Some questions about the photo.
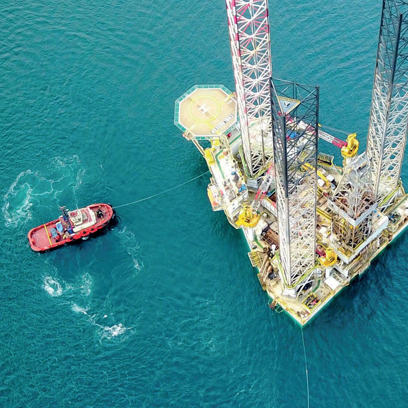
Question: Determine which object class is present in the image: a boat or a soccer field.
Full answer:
The one in the frame is a boat.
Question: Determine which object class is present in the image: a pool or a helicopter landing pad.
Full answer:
Looking from above, you can make out a helicopter landing pad.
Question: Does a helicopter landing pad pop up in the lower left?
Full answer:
No, no helicopter landing pad can be made out in the lower left.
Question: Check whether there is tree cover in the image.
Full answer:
No, the scene doesn't show any tree cover.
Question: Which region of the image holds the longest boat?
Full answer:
The longest boat appears toward the left of the photo.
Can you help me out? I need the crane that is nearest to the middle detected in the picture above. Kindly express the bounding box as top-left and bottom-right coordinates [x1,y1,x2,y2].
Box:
[240,149,282,245]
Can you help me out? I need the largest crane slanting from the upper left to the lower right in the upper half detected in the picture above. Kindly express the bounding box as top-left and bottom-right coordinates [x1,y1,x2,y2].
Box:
[282,111,361,177]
